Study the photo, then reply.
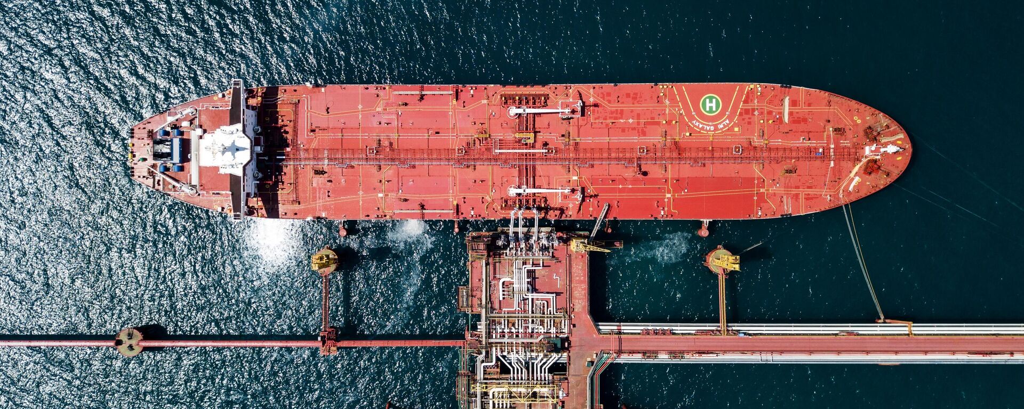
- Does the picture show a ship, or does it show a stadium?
ship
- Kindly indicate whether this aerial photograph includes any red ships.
Yes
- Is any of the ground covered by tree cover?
No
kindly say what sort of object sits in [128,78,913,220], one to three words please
ship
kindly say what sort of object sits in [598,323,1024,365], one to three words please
bridge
